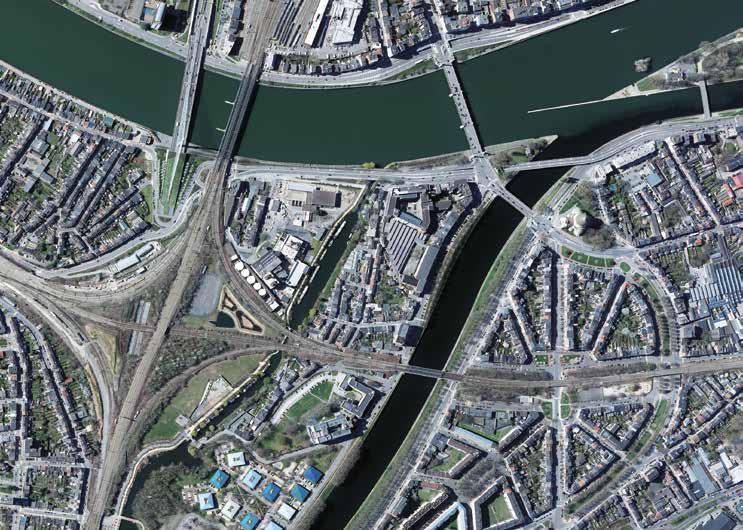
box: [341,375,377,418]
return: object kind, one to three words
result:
house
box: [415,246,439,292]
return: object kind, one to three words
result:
building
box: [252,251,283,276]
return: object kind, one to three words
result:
building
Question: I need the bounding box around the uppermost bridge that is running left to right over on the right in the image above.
[491,154,591,174]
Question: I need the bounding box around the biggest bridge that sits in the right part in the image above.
[439,57,485,161]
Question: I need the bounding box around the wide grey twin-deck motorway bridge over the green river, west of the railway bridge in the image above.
[171,0,210,151]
